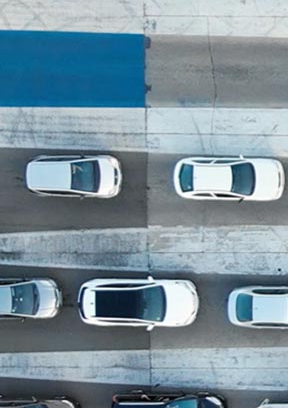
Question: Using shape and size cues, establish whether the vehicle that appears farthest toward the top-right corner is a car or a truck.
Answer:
car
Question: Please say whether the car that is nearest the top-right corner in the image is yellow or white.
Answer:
white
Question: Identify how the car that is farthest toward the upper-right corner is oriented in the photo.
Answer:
from left to right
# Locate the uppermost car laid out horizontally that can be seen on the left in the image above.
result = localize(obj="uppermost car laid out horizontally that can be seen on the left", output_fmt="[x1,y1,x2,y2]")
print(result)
[23,152,123,201]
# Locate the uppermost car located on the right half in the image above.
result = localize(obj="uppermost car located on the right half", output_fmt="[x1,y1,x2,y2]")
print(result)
[173,154,287,205]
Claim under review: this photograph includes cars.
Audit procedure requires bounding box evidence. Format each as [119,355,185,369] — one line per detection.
[77,277,201,330]
[23,152,123,201]
[173,154,287,205]
[0,275,64,324]
[109,391,228,408]
[228,285,288,330]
